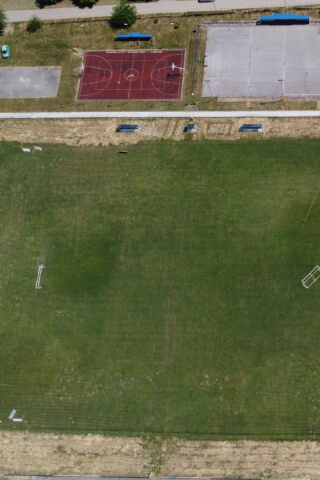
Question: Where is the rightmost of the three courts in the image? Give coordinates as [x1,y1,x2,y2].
[200,22,320,100]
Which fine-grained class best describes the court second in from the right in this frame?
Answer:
basketball court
